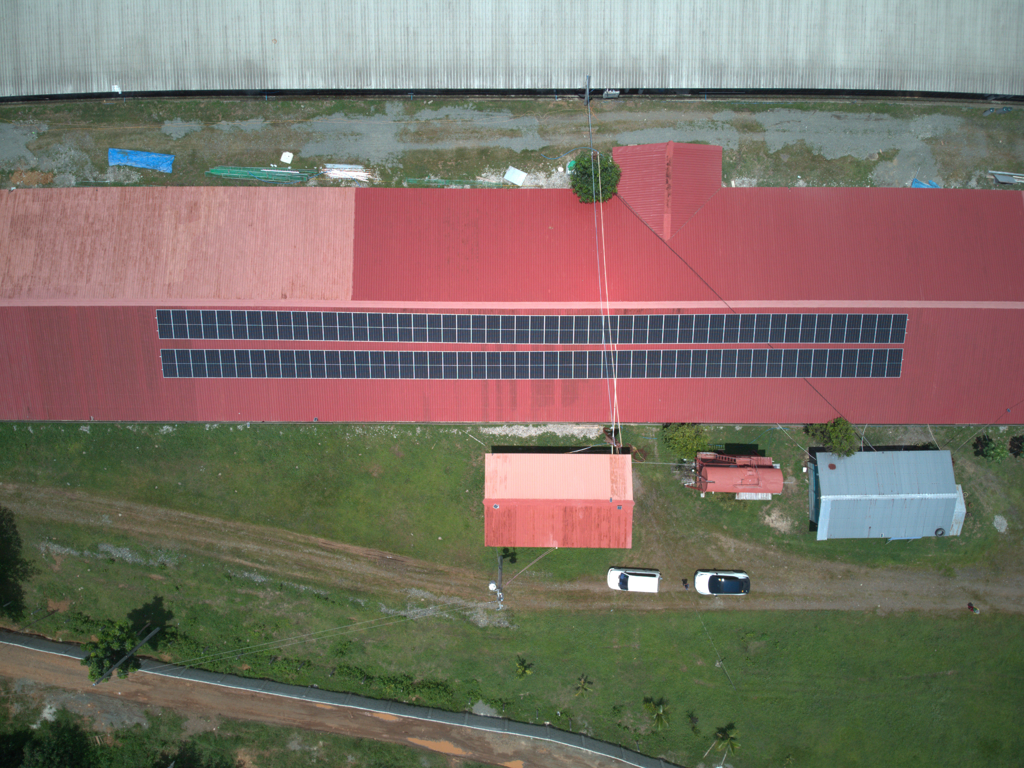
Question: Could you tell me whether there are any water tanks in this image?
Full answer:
Yes, I can see a water tank in this picture.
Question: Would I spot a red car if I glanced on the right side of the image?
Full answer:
No, no red car appears on the right side of the image.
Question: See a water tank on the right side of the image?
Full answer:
Yes, there is a water tank on the right side of the image.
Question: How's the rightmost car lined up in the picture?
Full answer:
From this overhead view, the rightmost car appears to run from left to right.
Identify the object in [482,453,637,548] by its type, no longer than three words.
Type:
house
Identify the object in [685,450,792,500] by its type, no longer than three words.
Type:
water tank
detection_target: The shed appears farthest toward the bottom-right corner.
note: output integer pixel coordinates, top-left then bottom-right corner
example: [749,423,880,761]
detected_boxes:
[802,451,966,540]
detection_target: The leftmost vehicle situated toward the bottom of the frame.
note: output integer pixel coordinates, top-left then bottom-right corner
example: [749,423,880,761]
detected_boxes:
[607,567,660,594]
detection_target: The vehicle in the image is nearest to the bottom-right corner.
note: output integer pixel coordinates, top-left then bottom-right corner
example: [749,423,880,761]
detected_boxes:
[693,569,751,598]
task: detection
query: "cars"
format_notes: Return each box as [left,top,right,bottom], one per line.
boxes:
[693,569,751,598]
[607,567,660,594]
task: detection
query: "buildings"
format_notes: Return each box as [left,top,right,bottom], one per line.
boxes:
[0,0,1024,104]
[802,451,966,540]
[0,142,1024,425]
[482,453,637,548]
